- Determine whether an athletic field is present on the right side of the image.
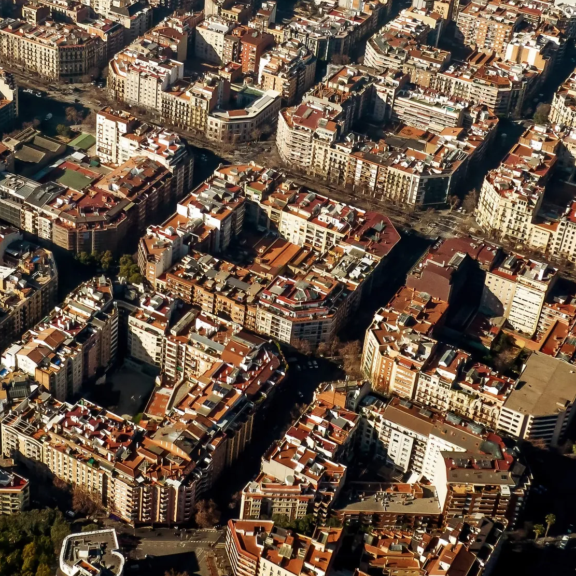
No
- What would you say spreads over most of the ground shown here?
buildings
